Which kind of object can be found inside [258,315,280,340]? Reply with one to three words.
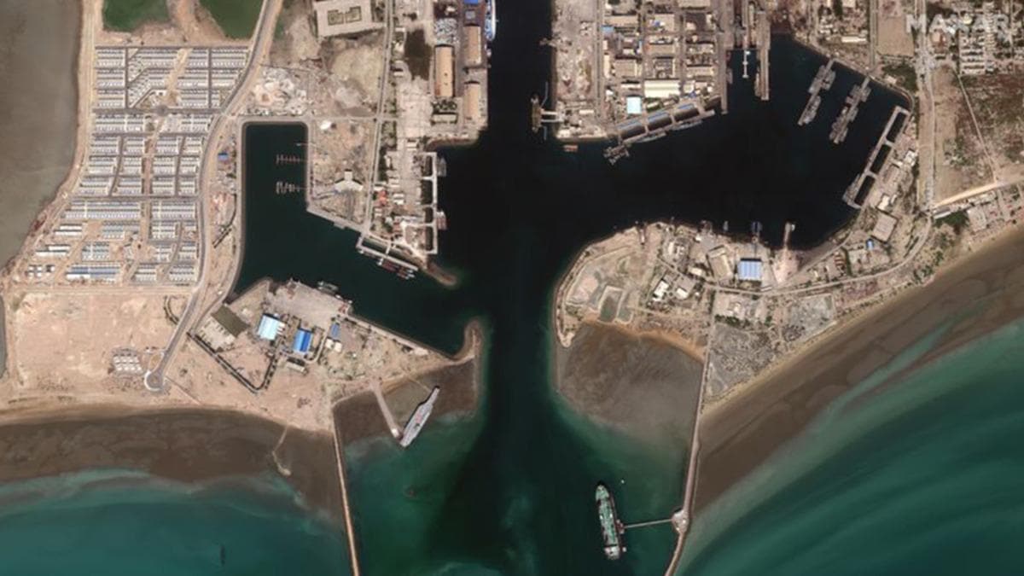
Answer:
building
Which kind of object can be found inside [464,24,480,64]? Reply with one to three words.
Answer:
building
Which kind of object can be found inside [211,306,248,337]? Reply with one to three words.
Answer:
hangar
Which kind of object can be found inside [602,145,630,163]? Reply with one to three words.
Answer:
ship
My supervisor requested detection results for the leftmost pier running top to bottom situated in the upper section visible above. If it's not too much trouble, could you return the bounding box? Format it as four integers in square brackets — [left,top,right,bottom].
[404,153,437,254]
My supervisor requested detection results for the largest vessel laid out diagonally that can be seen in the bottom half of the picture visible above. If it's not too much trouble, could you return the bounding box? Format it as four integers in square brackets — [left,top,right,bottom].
[400,387,439,447]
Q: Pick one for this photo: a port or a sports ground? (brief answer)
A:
port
